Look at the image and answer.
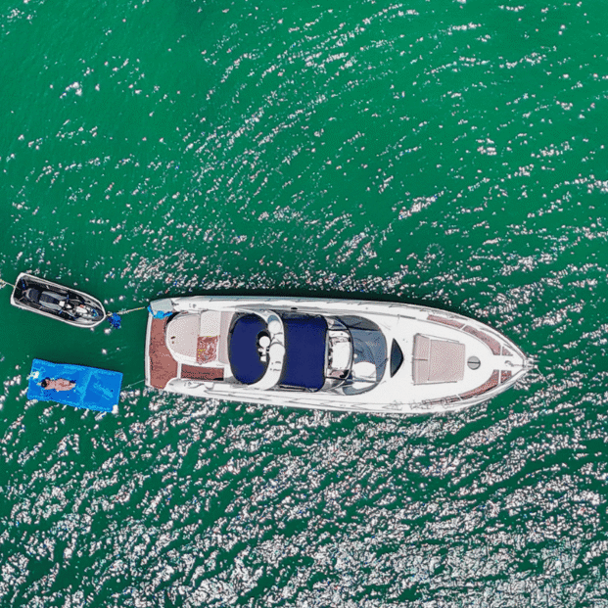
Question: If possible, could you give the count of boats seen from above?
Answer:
2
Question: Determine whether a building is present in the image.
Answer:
No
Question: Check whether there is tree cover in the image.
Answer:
No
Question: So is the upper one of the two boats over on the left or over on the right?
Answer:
left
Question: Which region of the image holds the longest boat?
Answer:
center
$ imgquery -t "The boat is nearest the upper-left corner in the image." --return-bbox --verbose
[13,273,107,327]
